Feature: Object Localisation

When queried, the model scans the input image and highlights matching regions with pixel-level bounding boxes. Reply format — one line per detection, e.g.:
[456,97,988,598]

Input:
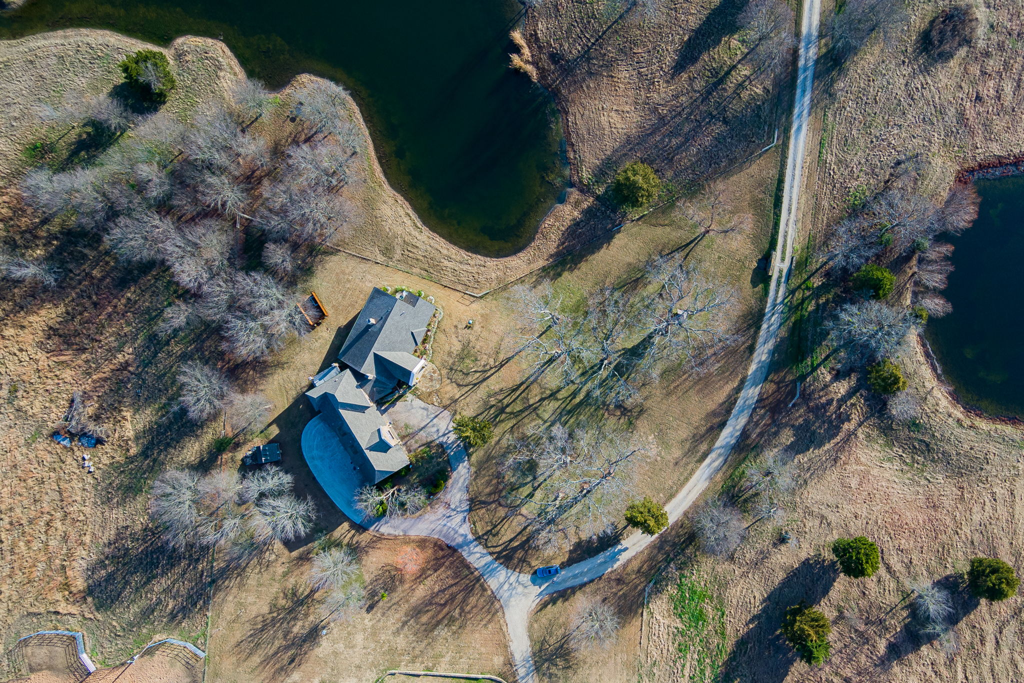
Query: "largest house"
[304,287,436,489]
